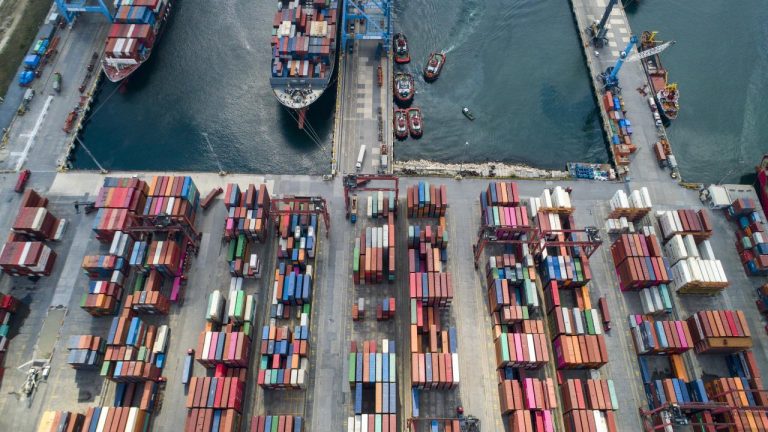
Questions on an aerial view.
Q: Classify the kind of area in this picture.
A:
port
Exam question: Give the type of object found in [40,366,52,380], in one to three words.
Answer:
vehicle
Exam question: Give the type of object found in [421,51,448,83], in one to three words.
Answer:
boat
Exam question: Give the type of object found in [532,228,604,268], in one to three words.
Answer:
container crane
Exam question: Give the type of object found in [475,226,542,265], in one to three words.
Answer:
container crane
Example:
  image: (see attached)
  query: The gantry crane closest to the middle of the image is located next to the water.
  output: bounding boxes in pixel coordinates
[344,176,400,215]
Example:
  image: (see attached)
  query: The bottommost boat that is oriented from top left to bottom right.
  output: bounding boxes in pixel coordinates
[459,107,474,123]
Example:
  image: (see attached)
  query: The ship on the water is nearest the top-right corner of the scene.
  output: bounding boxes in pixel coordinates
[645,27,688,122]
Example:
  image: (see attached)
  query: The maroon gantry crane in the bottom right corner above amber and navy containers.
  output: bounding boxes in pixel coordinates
[703,392,768,427]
